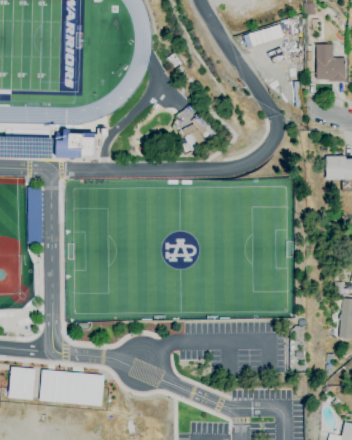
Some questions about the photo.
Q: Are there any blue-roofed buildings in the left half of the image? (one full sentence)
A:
Yes, you'll find a blue-roofed building in the left half of the image.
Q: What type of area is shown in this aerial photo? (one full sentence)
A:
What you see here is a sports ground.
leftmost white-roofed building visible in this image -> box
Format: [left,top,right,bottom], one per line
[8,367,36,402]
